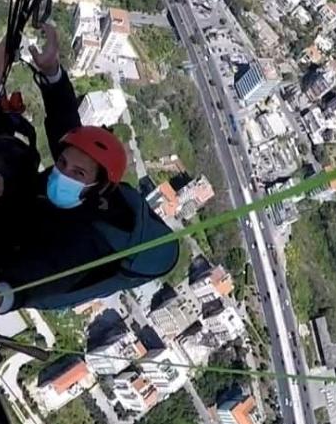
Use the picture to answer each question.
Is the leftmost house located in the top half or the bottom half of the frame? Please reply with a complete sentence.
It is in the bottom half that the leftmost house appears.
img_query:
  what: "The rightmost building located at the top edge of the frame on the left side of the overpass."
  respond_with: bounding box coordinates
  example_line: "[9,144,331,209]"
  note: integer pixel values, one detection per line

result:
[103,8,131,51]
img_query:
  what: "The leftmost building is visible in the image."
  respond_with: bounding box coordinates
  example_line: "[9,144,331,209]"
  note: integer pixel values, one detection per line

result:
[39,385,66,411]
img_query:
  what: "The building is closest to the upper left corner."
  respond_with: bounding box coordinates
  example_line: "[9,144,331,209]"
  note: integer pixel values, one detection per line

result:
[77,1,101,52]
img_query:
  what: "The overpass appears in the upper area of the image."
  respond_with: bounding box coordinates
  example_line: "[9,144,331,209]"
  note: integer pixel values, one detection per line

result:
[167,0,216,66]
